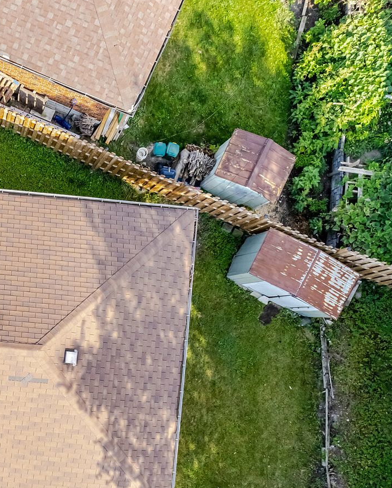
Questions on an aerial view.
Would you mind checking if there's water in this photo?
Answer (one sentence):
No, no water is visible.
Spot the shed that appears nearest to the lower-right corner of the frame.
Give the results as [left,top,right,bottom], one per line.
[231,228,362,320]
